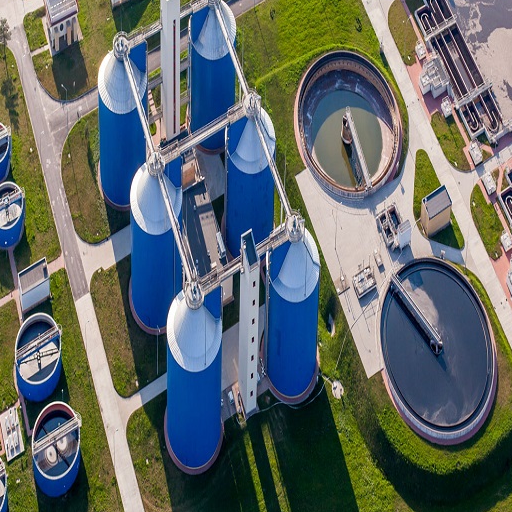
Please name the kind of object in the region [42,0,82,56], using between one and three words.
building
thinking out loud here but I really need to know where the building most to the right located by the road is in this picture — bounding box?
[416,183,452,240]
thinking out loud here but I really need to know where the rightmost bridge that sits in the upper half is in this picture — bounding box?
[344,100,375,195]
